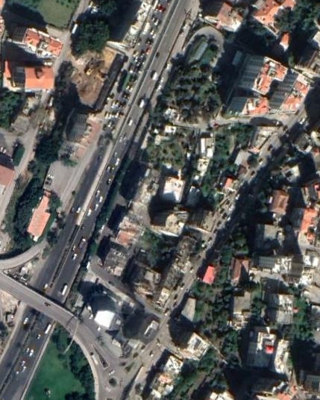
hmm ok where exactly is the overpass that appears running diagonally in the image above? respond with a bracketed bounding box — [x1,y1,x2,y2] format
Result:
[0,267,112,354]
